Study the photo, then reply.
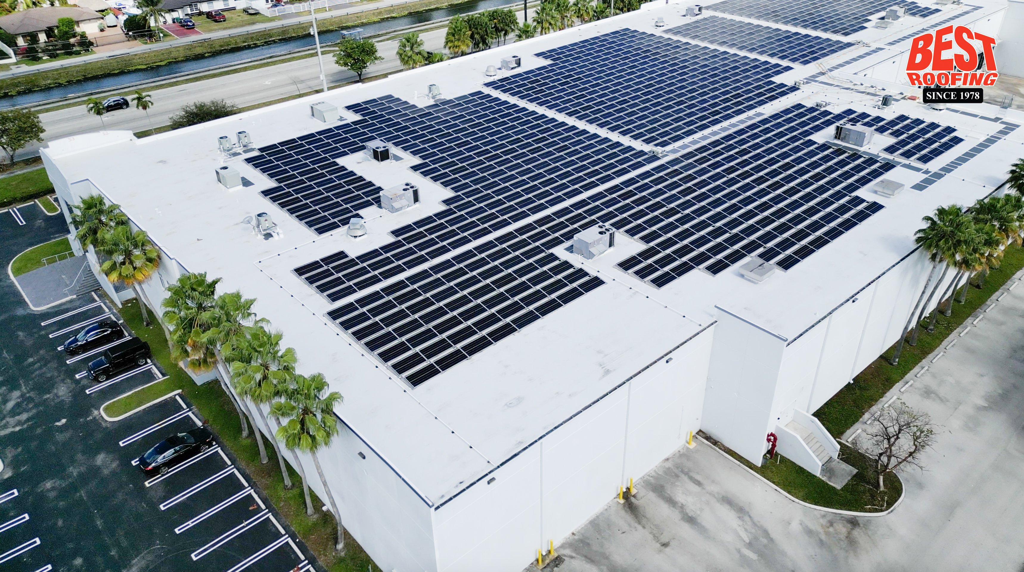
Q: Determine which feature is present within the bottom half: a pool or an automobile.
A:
automobile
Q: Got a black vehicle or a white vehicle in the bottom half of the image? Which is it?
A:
black vehicle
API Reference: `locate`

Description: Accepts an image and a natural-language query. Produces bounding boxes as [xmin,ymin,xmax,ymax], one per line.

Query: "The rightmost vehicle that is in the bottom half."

[137,430,211,475]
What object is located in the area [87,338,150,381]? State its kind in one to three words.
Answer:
car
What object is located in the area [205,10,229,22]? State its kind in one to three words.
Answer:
vehicle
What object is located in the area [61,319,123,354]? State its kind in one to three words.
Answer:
car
